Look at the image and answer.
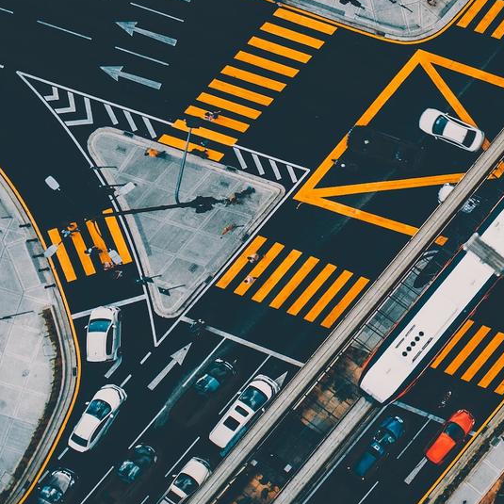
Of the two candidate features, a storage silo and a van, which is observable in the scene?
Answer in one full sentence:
Looking from above, you can make out a van.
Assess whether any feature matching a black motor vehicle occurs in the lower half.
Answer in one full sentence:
Yes, you'll find a black motor vehicle in the lower half.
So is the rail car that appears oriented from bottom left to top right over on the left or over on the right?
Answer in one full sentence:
The rail car that appears oriented from bottom left to top right appears in the right half of the scene.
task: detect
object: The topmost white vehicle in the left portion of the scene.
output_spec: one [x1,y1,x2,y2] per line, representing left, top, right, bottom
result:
[85,303,122,362]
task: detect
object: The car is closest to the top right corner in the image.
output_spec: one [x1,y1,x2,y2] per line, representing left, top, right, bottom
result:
[420,108,487,152]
